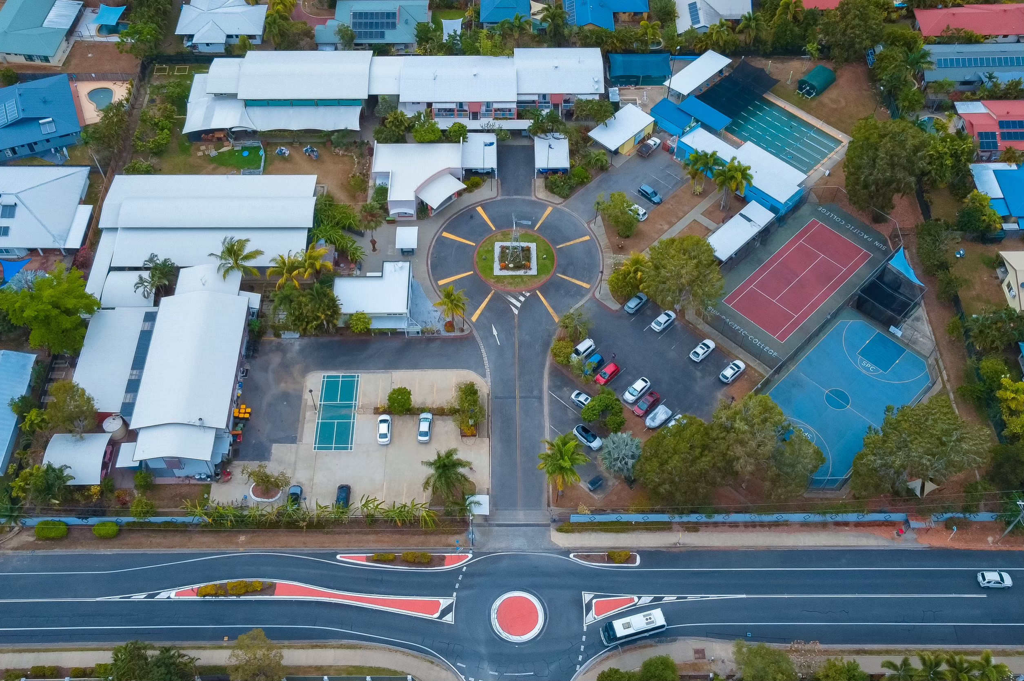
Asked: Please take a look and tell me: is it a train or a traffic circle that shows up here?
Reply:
traffic circle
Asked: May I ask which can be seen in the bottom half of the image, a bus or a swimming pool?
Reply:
bus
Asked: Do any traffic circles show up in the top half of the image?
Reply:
No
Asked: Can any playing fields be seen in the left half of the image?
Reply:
No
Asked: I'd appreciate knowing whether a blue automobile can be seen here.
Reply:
Yes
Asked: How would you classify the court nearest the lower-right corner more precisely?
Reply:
basketball court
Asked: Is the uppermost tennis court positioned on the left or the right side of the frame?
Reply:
right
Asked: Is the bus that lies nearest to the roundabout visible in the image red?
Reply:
No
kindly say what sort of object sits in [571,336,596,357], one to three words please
car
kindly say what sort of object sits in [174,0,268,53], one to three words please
house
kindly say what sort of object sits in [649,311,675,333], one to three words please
car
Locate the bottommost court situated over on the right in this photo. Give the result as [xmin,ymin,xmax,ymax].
[738,313,941,497]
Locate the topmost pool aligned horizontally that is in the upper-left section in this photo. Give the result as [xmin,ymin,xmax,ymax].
[96,21,127,36]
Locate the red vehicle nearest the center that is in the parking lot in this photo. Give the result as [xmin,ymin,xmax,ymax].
[595,360,622,383]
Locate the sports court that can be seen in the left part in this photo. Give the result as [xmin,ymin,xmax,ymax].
[313,373,360,451]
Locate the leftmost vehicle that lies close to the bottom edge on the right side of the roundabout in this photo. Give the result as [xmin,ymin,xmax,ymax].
[598,608,668,649]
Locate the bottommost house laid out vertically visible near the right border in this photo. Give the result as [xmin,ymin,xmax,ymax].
[993,251,1024,321]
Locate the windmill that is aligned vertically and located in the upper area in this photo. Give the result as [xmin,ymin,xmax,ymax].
[508,217,532,262]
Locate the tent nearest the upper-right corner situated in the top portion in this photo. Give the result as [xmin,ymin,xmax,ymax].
[798,67,838,97]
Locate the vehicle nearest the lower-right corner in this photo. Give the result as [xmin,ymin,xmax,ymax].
[976,570,1014,588]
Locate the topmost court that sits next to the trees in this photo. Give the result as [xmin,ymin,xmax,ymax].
[687,203,893,370]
